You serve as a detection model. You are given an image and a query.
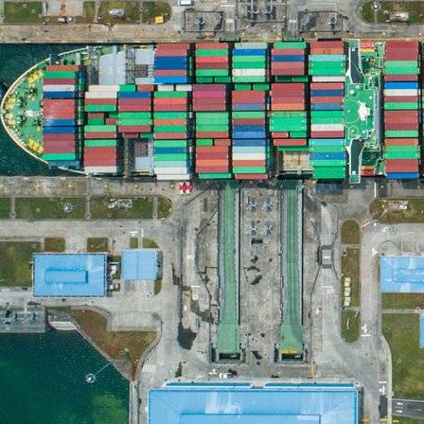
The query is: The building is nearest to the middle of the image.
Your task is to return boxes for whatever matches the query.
[121,250,160,281]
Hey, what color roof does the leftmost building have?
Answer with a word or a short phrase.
blue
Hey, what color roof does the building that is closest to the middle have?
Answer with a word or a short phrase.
blue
